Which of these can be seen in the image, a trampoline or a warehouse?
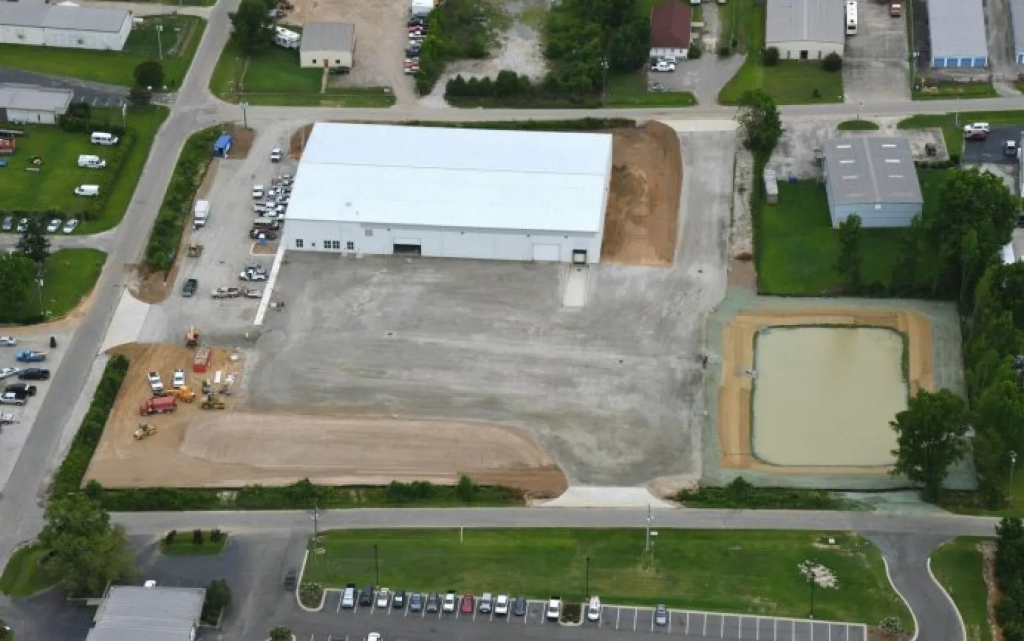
warehouse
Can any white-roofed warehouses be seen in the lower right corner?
No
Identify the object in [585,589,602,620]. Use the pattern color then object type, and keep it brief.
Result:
white vehicle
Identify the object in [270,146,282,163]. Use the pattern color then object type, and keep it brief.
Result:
white vehicle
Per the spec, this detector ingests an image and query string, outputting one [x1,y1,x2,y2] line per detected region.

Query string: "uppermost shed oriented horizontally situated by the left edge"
[0,5,133,50]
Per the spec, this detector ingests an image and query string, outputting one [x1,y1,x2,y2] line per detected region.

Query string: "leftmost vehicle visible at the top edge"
[271,29,300,48]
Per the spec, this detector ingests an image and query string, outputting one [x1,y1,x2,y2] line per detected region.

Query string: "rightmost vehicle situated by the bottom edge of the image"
[654,602,669,623]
